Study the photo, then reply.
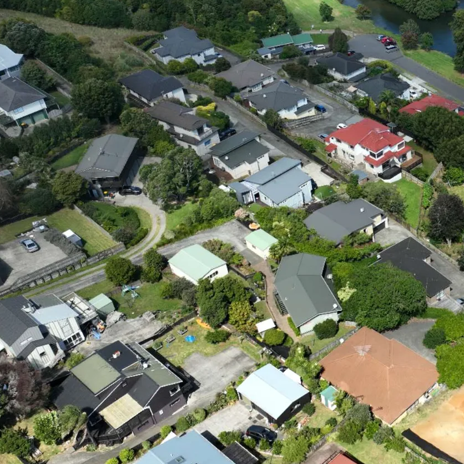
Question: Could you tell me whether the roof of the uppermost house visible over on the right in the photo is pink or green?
green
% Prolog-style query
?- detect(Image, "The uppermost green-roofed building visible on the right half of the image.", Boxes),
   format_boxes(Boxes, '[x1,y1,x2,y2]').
[258,34,313,63]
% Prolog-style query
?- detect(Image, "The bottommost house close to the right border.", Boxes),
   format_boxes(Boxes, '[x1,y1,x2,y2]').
[320,331,442,431]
